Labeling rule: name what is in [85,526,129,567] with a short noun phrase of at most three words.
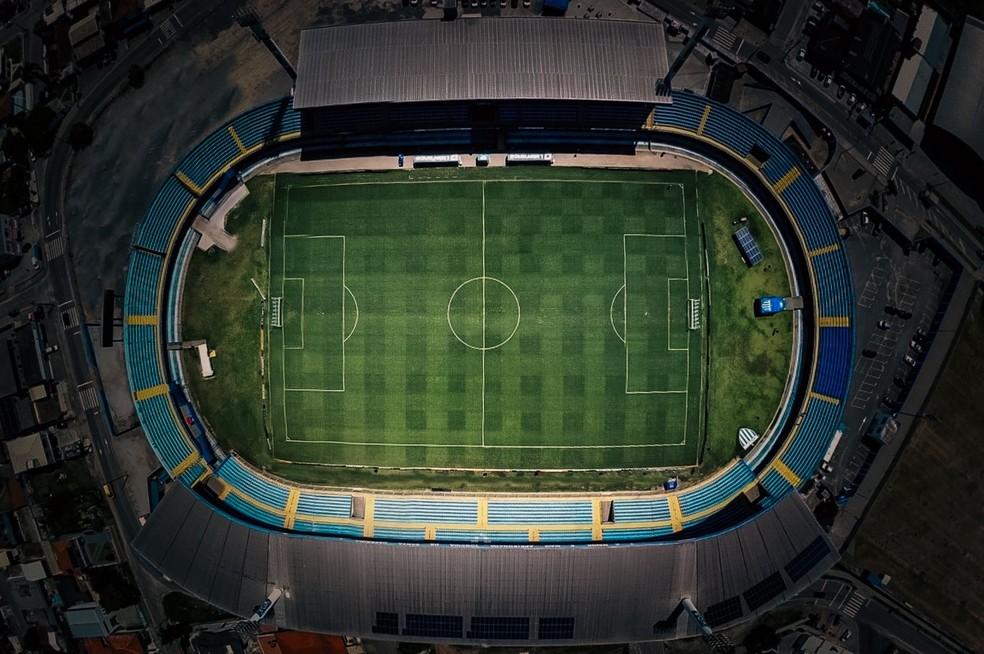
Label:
house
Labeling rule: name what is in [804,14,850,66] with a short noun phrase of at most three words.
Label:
house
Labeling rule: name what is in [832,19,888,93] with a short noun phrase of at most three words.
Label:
building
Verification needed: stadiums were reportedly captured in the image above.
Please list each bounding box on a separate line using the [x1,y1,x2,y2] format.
[120,17,859,648]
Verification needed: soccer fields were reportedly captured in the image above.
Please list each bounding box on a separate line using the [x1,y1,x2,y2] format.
[269,170,705,467]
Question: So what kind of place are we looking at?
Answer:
sports ground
